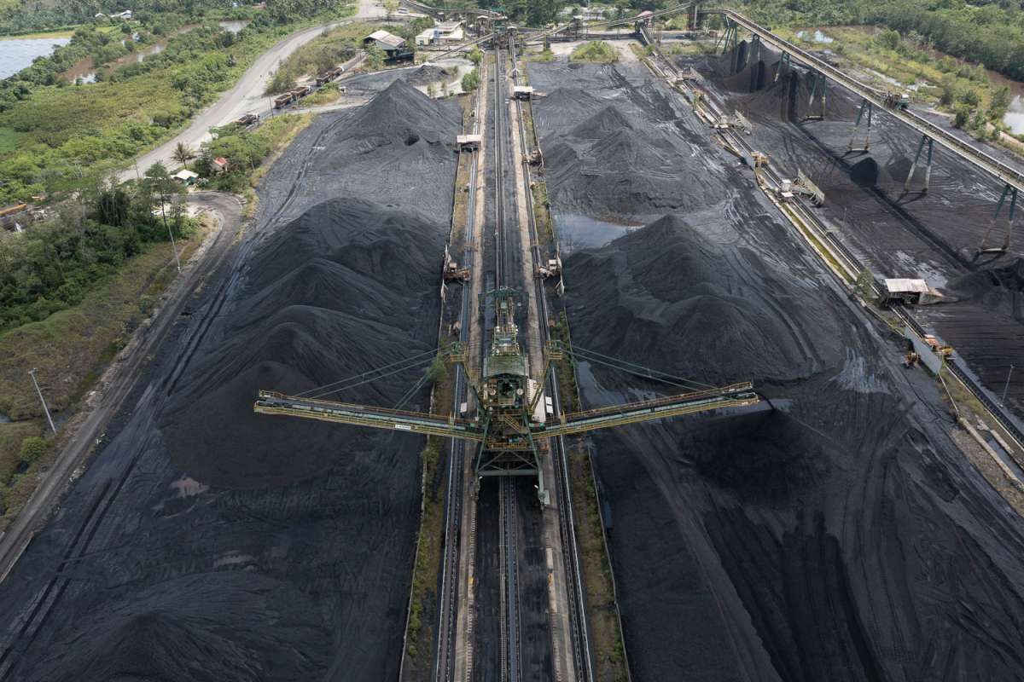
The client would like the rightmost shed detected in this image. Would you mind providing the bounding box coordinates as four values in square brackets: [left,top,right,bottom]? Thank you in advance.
[887,275,968,311]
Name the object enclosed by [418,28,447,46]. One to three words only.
building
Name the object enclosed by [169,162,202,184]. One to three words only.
shed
